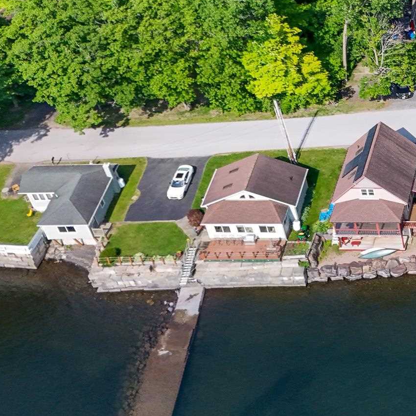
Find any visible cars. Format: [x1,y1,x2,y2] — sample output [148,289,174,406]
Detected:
[394,71,412,94]
[165,164,192,198]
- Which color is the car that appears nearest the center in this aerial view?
white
